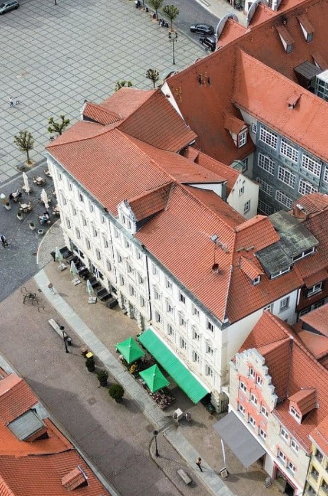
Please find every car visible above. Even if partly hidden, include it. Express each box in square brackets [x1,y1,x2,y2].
[0,0,20,12]
[189,23,216,35]
[199,36,217,52]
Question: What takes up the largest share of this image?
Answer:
buildings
